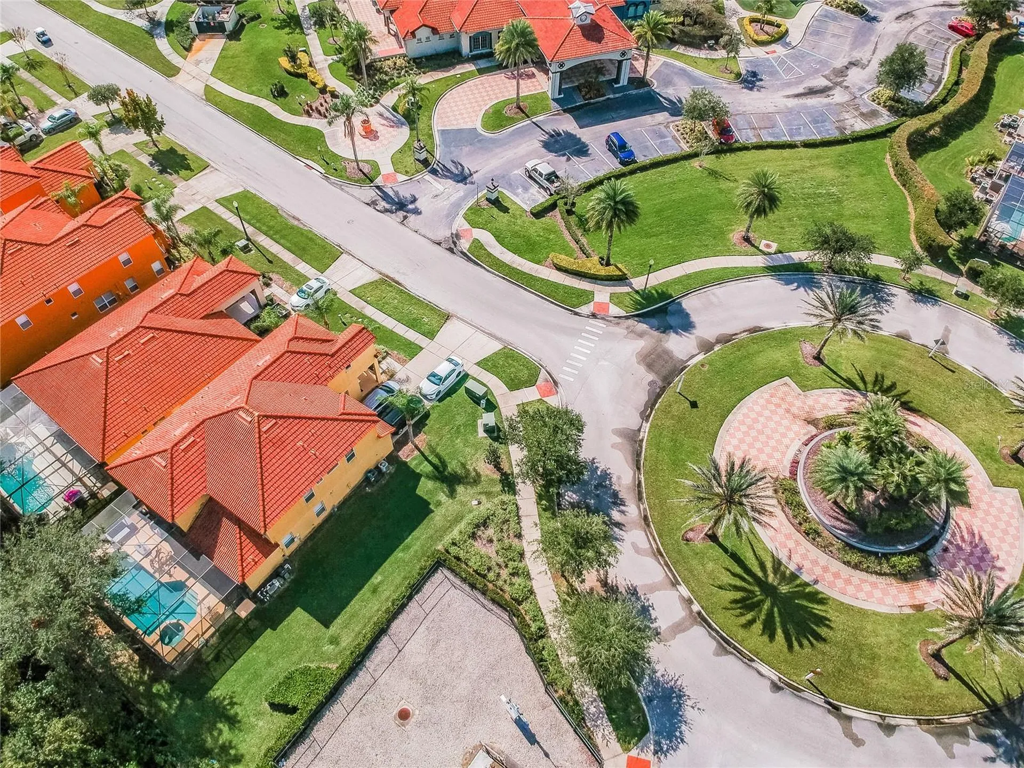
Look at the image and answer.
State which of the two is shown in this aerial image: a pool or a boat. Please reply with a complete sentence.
This aerial view contains a pool.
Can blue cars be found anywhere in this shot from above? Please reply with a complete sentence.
Yes, the frame does contain a blue car.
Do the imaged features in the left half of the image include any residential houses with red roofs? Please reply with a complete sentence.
Yes, in the left half of the image there is a residential house with a red roof.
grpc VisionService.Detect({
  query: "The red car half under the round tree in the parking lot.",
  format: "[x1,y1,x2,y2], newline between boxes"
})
[712,112,736,140]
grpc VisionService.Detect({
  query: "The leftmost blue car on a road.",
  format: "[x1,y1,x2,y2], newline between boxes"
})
[607,127,635,161]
